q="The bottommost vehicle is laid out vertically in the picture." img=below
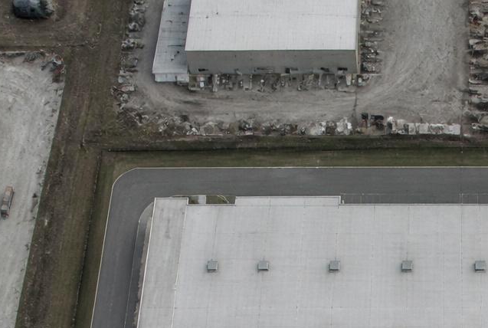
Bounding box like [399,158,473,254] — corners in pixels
[1,186,14,218]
